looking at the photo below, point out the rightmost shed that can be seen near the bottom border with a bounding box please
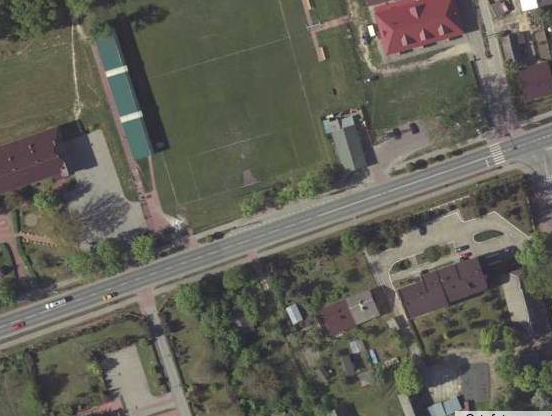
[427,396,462,416]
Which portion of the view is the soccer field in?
top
